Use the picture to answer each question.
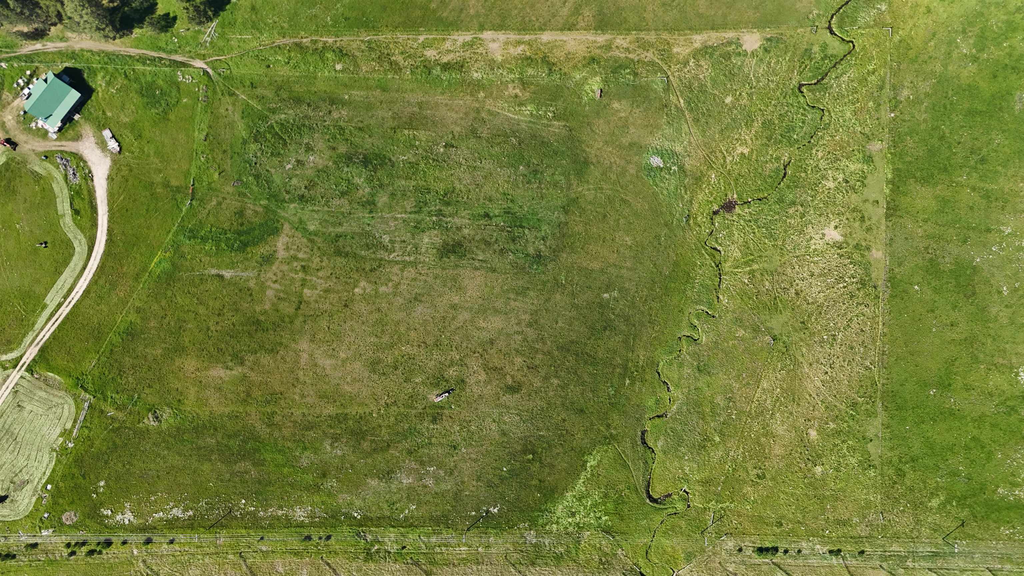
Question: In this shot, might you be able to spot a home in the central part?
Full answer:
No, I can find no home in the central part.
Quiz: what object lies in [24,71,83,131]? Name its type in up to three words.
house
